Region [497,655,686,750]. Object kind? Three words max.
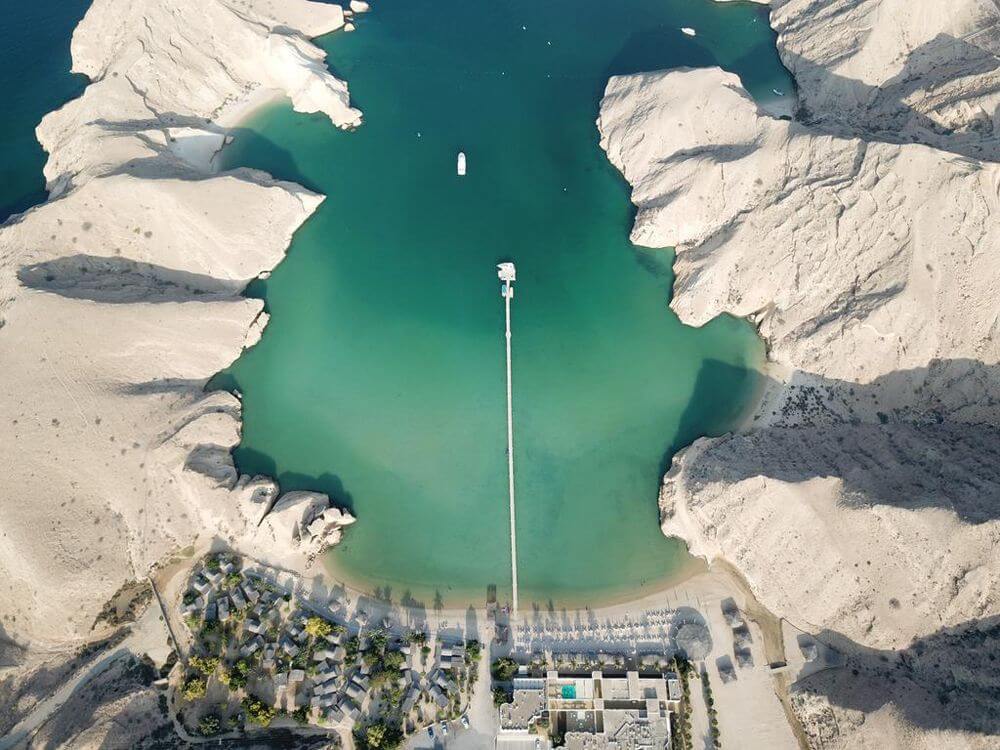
building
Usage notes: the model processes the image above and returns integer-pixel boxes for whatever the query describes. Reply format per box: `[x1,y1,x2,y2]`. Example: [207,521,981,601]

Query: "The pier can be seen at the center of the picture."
[497,263,517,613]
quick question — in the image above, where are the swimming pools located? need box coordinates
[562,685,576,698]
